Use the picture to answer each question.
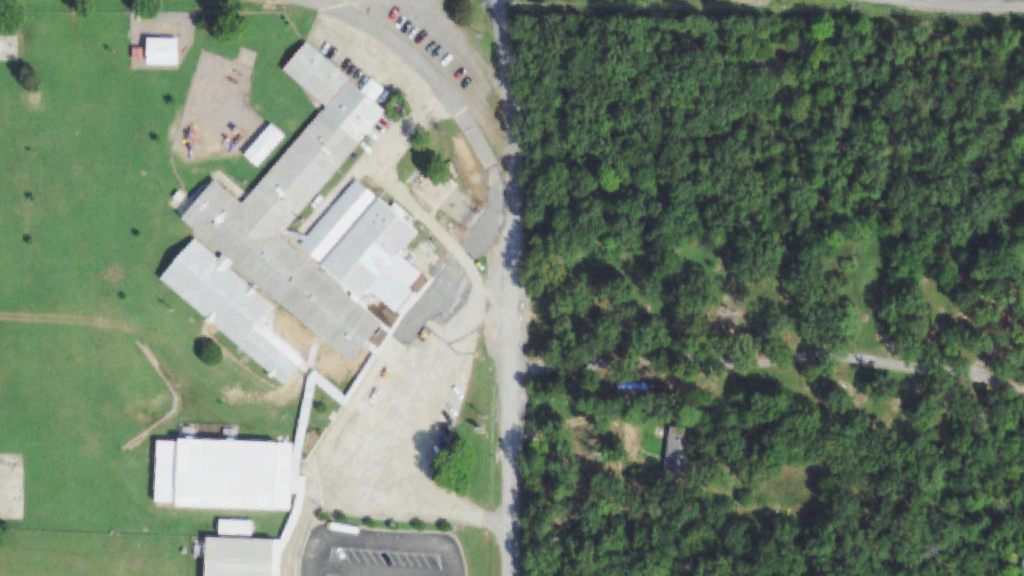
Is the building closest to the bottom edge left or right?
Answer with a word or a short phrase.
left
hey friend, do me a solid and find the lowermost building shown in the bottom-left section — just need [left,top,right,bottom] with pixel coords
[204,537,272,576]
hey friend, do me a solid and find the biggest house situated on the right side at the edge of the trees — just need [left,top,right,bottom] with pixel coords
[665,428,683,473]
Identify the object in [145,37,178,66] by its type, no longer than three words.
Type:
building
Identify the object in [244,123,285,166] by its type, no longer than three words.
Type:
shed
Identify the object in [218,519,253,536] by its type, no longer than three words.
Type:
building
